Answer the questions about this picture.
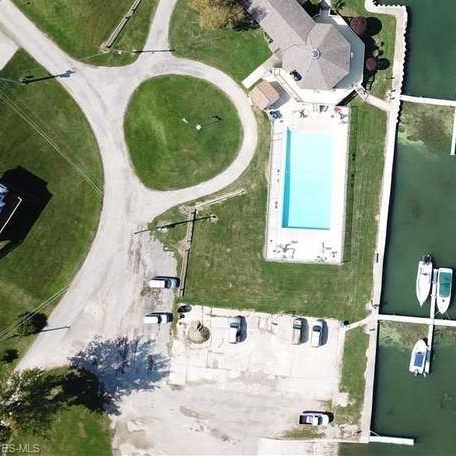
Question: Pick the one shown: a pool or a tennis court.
pool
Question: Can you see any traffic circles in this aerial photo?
Yes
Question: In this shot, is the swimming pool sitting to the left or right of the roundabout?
right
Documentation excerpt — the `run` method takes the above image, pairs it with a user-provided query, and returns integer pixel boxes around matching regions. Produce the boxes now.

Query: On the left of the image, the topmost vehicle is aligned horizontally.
[146,278,176,291]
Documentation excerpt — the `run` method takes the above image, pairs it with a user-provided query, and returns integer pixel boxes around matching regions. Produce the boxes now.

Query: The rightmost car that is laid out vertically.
[308,320,322,349]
